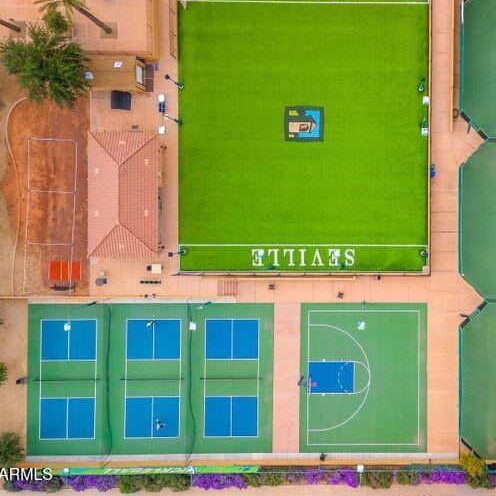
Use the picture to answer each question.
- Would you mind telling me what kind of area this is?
sports ground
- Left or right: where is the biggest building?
left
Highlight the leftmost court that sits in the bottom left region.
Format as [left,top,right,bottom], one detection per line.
[28,304,108,455]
